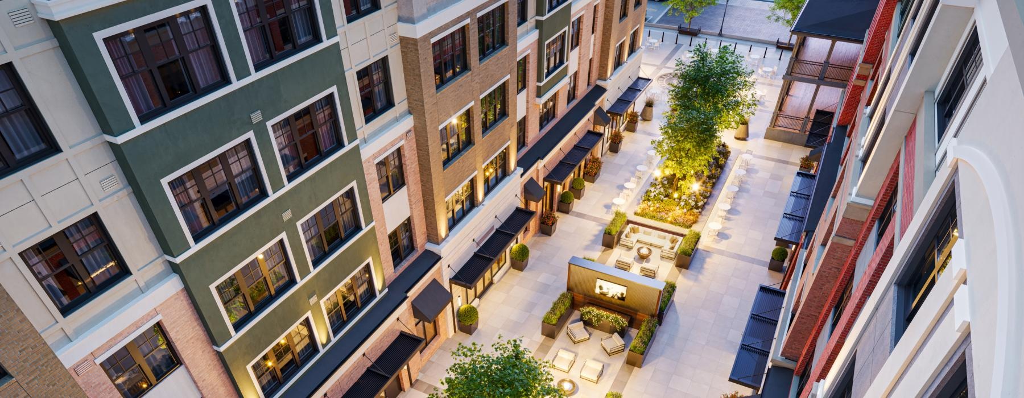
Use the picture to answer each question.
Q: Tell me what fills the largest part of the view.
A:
buildings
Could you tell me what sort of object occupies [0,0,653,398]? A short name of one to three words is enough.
building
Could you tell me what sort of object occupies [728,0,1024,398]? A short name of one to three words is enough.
building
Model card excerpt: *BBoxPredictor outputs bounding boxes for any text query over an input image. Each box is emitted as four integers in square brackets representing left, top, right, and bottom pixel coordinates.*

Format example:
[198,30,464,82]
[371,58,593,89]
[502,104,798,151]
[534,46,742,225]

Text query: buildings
[728,0,1024,398]
[0,0,653,398]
